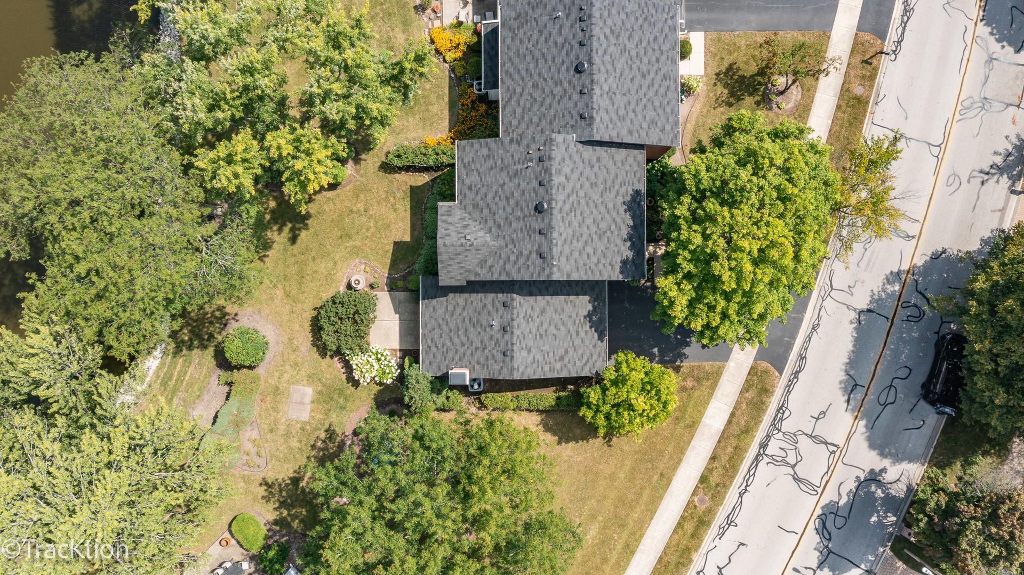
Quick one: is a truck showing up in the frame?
No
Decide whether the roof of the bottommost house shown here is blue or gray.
gray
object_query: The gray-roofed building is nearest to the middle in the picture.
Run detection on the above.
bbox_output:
[418,132,648,384]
